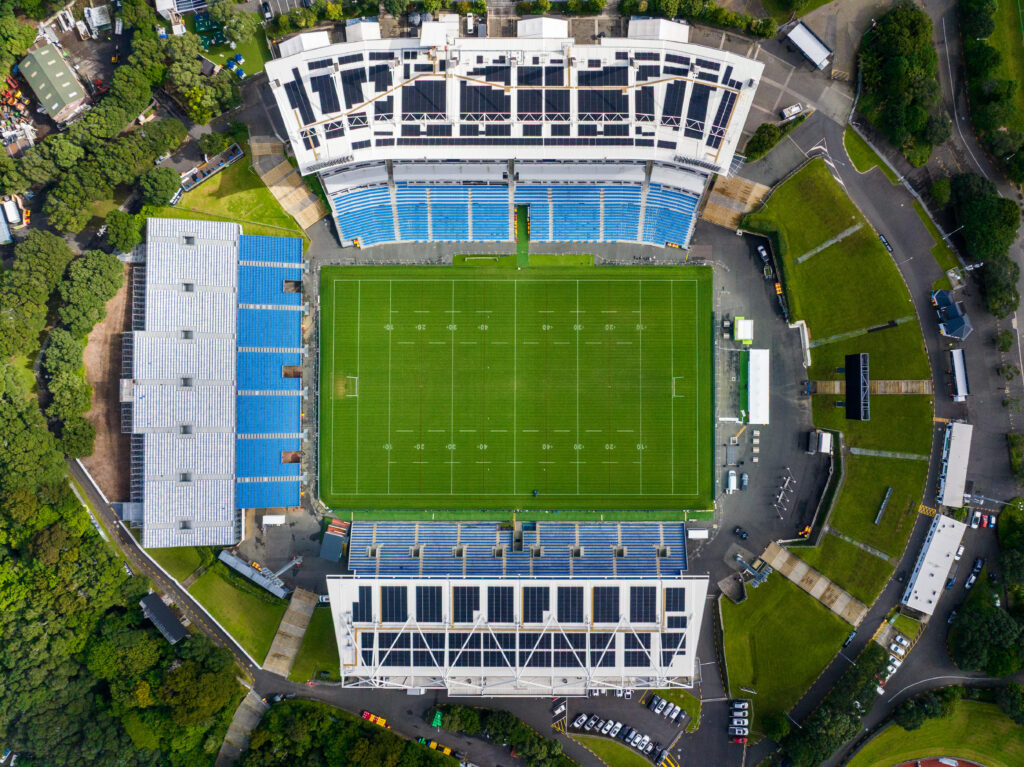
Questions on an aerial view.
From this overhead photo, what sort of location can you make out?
sports ground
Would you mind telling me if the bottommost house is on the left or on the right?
left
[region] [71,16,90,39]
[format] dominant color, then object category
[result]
white vehicle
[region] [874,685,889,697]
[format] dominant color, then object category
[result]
white vehicle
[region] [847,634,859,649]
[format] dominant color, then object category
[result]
black vehicle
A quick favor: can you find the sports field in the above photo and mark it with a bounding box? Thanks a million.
[319,266,713,510]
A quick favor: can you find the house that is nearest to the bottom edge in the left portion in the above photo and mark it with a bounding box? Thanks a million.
[140,589,194,645]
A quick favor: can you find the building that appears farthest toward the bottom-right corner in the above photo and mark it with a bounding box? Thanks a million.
[894,513,967,614]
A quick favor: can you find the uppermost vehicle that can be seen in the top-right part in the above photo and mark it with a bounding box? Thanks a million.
[783,101,805,116]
